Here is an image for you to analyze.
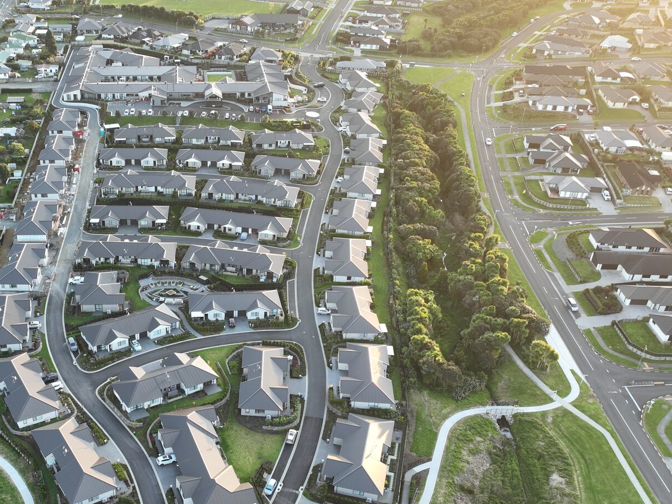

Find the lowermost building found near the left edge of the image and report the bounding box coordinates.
[30,415,131,504]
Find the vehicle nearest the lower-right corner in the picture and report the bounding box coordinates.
[564,299,580,314]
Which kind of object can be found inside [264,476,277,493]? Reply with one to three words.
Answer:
vehicle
